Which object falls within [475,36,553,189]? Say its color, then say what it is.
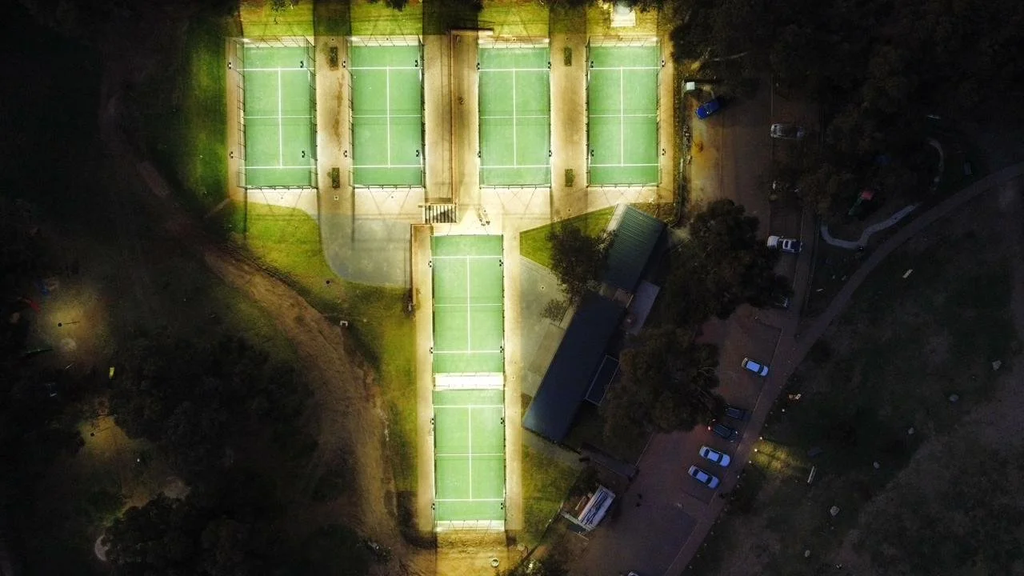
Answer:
green sports court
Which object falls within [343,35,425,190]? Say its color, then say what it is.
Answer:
green sports court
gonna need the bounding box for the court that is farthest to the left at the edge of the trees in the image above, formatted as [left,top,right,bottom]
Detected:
[231,35,318,190]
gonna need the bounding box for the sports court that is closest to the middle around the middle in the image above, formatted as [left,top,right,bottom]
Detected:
[428,232,505,380]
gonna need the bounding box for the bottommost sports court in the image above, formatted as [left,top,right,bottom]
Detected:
[430,384,507,533]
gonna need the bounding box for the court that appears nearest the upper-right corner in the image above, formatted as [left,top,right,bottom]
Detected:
[585,35,665,189]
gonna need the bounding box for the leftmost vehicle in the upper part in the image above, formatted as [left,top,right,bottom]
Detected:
[694,97,723,119]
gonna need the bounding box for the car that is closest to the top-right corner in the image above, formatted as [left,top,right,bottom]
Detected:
[769,122,806,140]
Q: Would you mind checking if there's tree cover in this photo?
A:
Yes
